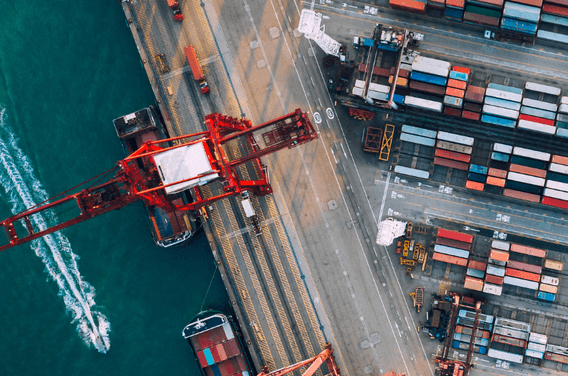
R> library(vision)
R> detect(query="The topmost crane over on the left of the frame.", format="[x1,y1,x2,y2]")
[0,108,317,259]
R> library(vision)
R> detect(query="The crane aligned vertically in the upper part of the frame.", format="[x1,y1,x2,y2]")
[355,22,411,122]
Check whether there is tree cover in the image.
No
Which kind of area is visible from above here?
port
